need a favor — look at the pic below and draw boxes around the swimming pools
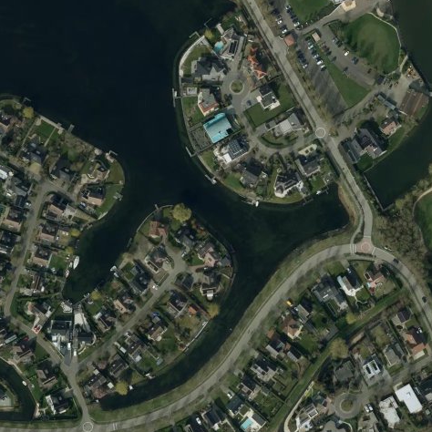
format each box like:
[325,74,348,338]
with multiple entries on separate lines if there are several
[213,40,223,51]
[239,416,254,430]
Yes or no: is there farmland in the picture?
No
